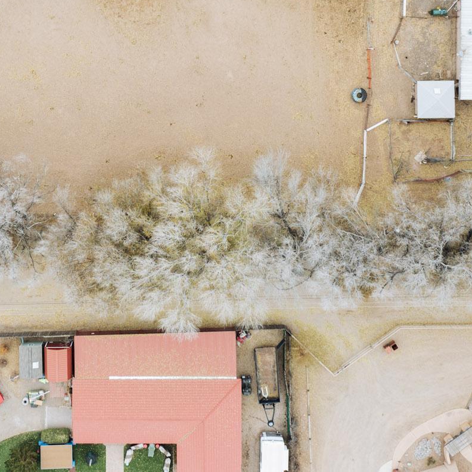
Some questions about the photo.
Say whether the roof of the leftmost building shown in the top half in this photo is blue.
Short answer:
No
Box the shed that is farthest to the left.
[19,341,44,379]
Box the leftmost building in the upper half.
[411,81,455,118]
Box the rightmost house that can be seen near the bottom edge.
[72,325,242,472]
